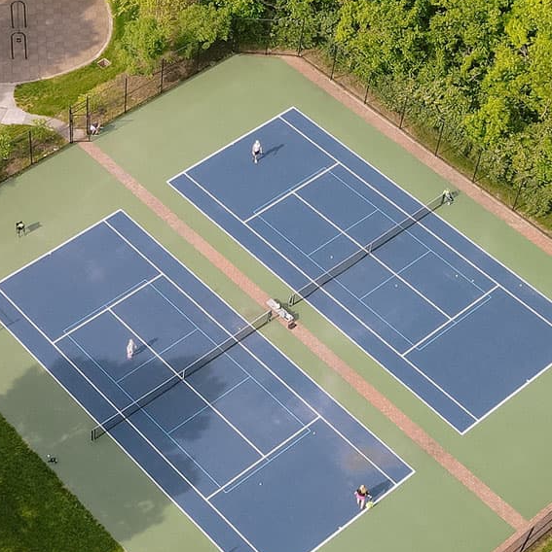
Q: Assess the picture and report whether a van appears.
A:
No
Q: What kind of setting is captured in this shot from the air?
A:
sports ground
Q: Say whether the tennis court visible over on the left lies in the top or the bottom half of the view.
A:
bottom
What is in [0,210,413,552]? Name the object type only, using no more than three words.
tennis court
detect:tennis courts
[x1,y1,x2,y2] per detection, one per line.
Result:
[0,210,413,552]
[169,107,552,433]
